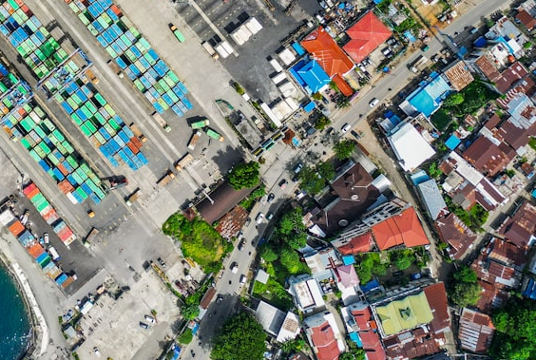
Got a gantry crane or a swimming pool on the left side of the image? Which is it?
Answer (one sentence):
The one visible on the left side of the image is a gantry crane.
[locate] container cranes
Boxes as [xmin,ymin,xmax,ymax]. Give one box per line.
[34,44,91,100]
[0,75,33,124]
